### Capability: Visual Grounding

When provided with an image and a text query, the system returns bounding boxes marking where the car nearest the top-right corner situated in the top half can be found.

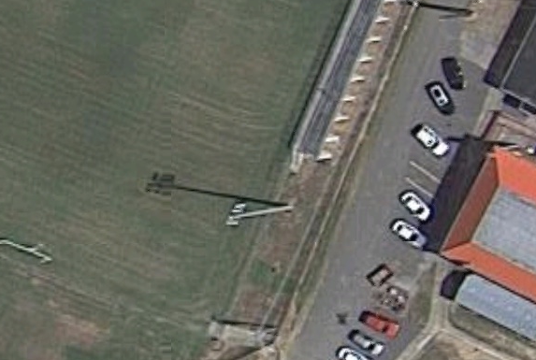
[443,54,465,91]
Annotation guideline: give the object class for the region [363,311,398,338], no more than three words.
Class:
car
